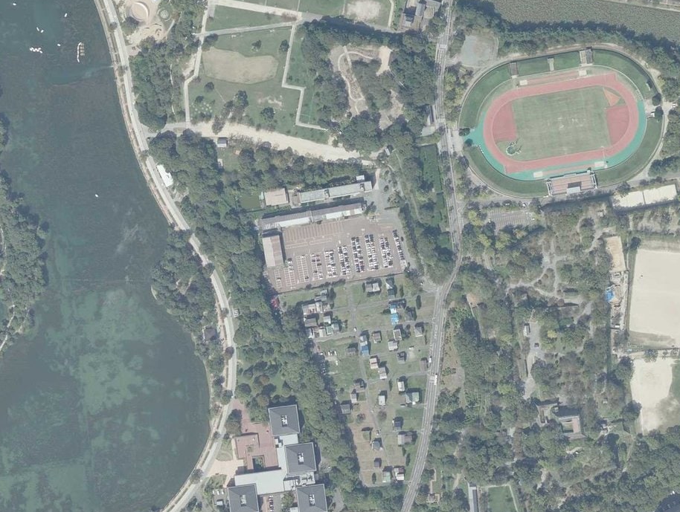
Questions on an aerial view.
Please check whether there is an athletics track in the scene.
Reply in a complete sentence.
Yes, an athletics track is visible in the scene.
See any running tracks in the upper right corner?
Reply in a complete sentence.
Yes, looking in the upper right corner, one can make out a running track.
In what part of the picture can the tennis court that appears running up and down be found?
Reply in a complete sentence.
The tennis court that appears running up and down is located in the right region of the scene.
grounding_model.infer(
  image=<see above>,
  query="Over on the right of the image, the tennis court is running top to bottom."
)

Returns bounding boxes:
[606,236,626,270]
